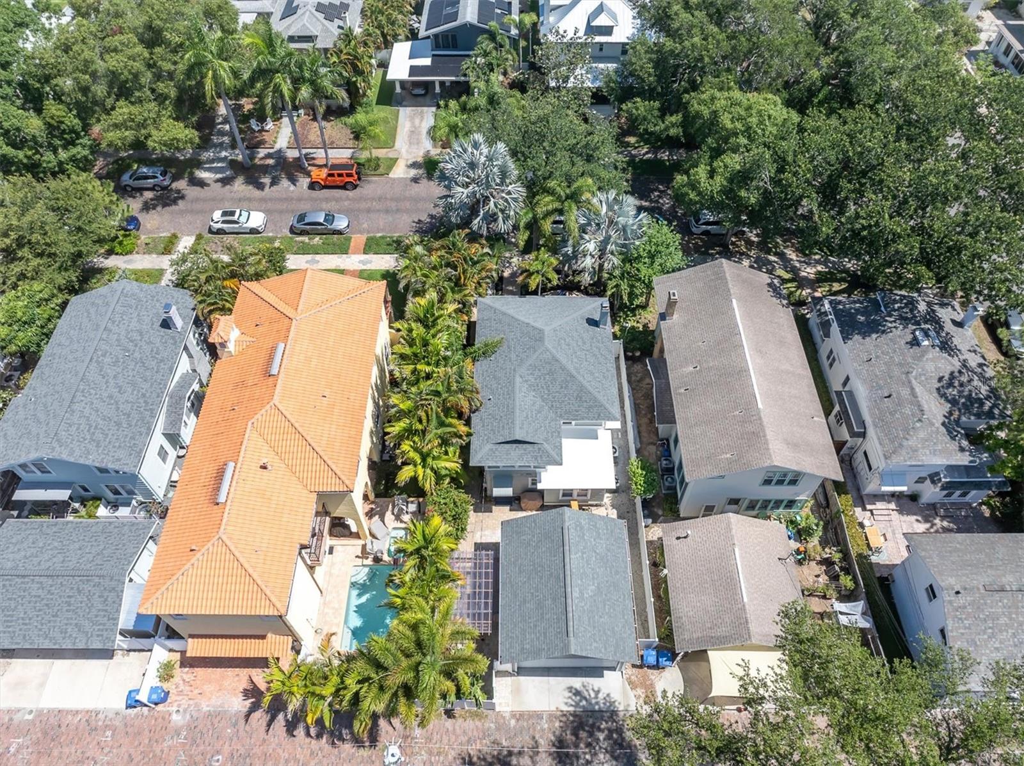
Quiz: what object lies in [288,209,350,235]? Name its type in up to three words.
car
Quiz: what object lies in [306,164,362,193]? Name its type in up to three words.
car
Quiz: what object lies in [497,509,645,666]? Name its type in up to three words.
building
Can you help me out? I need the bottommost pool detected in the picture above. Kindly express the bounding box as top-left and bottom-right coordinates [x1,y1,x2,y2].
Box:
[335,559,409,655]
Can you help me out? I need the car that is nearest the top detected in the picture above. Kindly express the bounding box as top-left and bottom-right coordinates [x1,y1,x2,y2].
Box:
[407,80,430,98]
